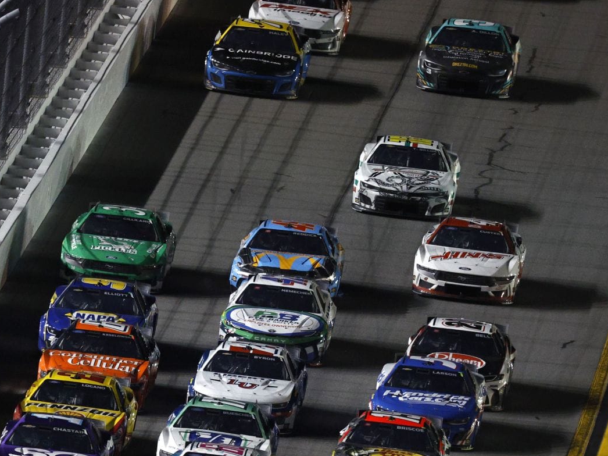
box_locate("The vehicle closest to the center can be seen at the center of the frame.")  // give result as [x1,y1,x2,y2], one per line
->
[229,218,344,305]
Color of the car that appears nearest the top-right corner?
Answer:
black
